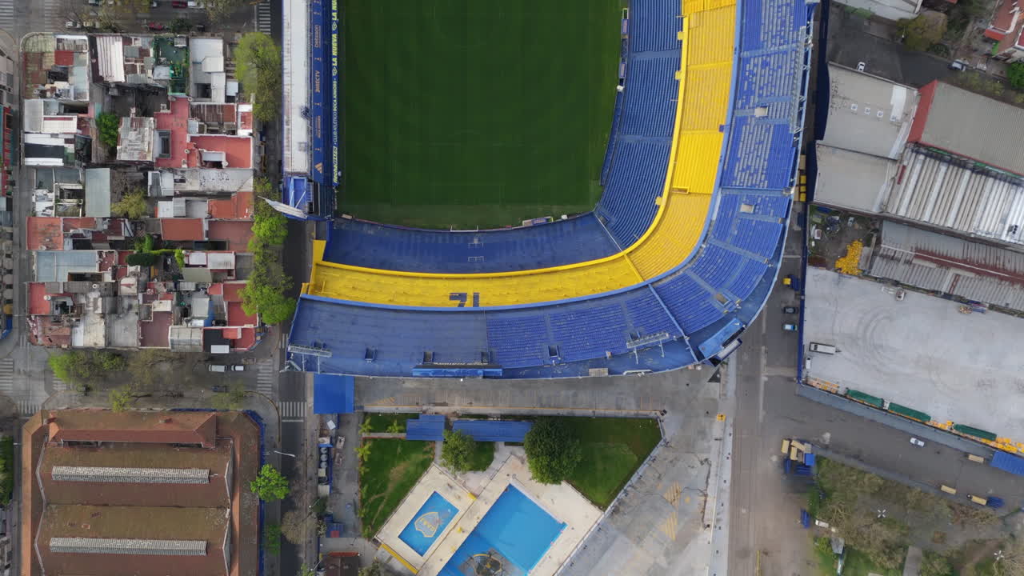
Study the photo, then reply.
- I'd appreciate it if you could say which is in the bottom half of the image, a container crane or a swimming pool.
swimming pool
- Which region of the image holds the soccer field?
top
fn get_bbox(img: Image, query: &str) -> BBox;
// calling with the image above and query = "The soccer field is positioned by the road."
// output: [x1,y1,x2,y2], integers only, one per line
[335,0,628,230]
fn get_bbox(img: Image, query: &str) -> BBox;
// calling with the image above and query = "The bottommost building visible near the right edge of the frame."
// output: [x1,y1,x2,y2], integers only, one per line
[863,220,1024,317]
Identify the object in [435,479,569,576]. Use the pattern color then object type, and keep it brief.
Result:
blue swimming pool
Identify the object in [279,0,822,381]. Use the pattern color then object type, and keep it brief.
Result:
blue stadium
